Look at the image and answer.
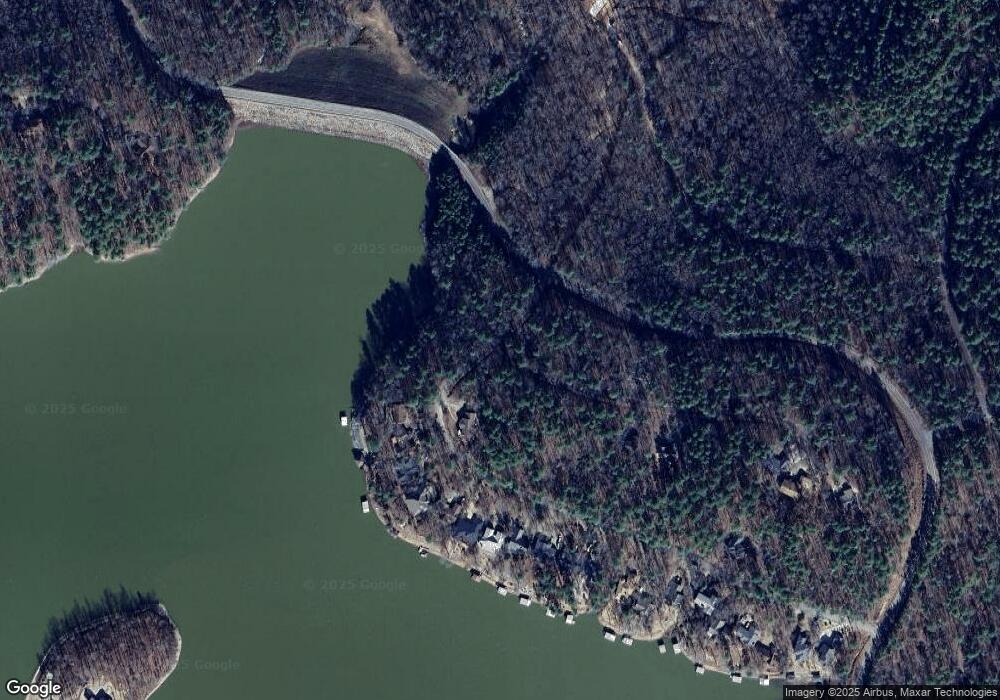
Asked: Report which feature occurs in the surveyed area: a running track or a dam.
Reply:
dam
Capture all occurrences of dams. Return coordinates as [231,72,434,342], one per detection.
[219,44,466,168]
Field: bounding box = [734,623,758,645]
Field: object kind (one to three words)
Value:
house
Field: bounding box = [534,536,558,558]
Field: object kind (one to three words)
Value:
house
